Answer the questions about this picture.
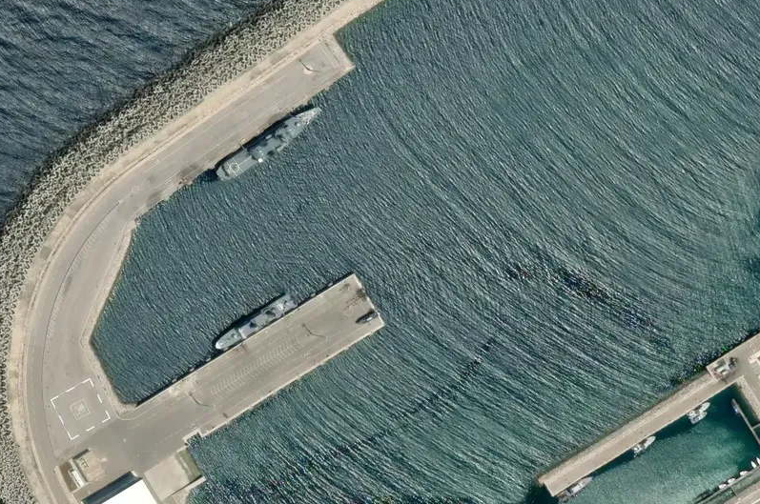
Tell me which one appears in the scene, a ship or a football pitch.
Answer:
ship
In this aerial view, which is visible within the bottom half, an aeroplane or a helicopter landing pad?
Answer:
helicopter landing pad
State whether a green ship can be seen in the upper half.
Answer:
No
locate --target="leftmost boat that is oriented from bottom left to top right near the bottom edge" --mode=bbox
[555,478,592,503]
